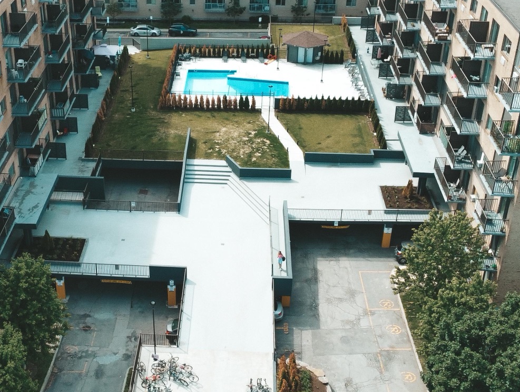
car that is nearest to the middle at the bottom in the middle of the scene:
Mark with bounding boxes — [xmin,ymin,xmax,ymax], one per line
[271,287,283,320]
